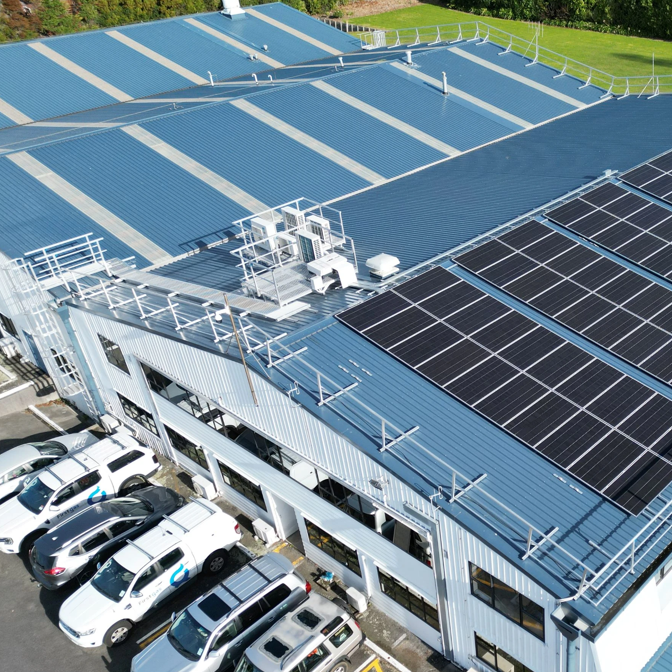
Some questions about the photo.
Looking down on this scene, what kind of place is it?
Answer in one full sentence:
The area seen from above is an industrial area.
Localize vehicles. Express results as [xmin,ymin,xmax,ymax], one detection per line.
[0,424,101,507]
[219,585,375,672]
[52,498,248,656]
[21,483,186,594]
[127,546,313,672]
